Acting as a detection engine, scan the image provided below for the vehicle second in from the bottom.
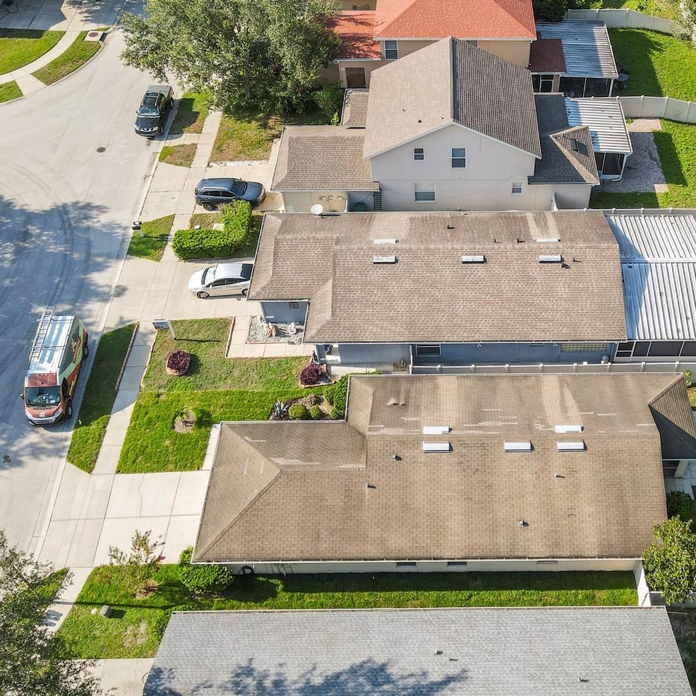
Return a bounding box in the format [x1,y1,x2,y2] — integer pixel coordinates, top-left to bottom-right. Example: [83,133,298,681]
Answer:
[189,263,251,298]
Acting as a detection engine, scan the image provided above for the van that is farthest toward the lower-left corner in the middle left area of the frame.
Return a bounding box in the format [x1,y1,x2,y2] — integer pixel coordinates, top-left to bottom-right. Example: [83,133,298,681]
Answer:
[17,317,92,432]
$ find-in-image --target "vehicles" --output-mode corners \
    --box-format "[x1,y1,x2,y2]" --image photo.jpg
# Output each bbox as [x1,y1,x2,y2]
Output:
[17,317,92,432]
[131,85,172,140]
[189,263,251,298]
[193,173,270,210]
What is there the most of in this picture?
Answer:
buildings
